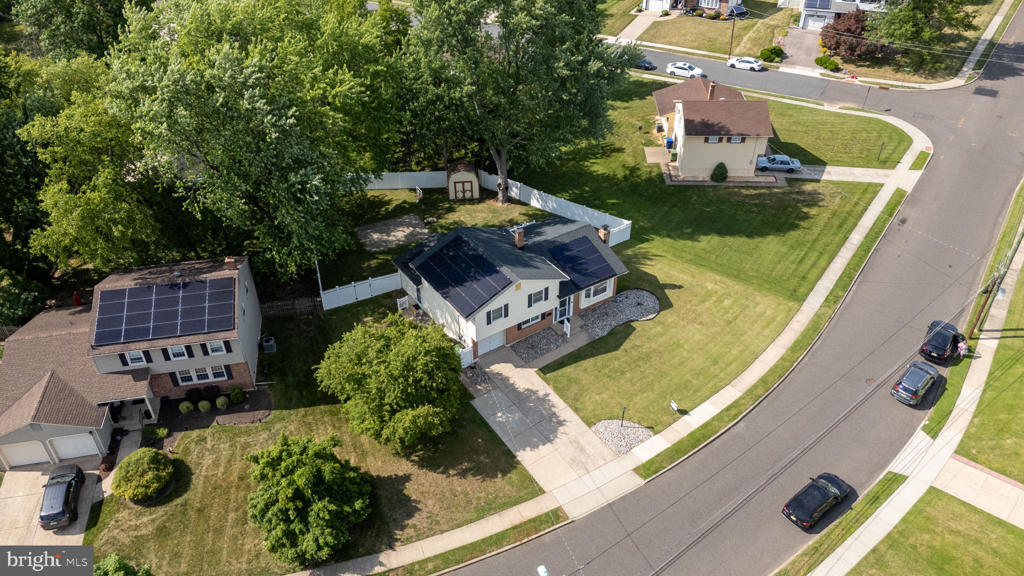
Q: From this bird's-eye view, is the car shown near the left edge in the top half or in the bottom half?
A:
bottom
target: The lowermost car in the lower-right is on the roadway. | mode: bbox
[786,476,851,529]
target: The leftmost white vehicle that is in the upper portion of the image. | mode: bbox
[665,60,702,77]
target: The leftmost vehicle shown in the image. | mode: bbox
[36,466,83,529]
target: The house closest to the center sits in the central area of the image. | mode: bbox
[392,216,629,362]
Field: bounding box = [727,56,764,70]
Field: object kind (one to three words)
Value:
car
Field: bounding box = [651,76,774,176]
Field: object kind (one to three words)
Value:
house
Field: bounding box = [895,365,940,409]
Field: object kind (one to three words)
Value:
car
